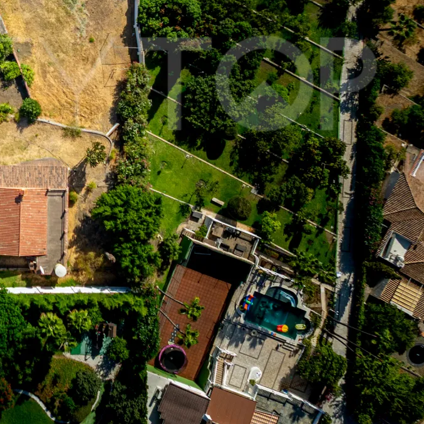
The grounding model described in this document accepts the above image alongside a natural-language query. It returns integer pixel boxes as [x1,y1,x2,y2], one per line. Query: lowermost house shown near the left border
[0,164,68,256]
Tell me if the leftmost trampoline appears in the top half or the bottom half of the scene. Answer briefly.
bottom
